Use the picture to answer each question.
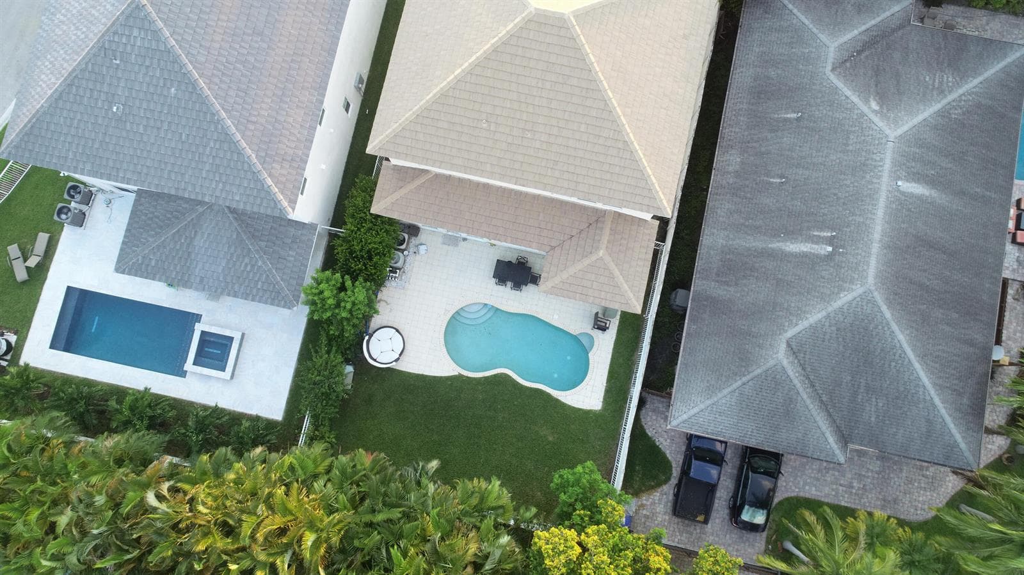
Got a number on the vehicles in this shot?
2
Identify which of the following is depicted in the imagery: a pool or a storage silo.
pool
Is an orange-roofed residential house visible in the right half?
No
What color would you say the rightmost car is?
black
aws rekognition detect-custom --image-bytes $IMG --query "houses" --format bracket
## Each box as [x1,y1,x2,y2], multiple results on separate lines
[365,0,717,315]
[0,0,388,313]
[666,0,1024,470]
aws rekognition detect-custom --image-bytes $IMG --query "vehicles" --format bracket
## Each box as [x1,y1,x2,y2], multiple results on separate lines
[671,430,730,523]
[725,441,785,534]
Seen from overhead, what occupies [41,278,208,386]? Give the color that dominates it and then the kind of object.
blue swimming pool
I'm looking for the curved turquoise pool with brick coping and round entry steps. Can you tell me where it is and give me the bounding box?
[437,296,601,397]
